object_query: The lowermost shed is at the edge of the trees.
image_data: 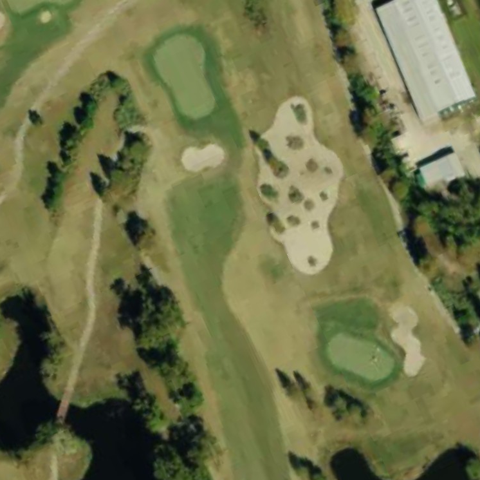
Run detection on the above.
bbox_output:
[415,151,466,192]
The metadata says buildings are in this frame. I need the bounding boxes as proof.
[366,0,478,127]
[415,151,466,192]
